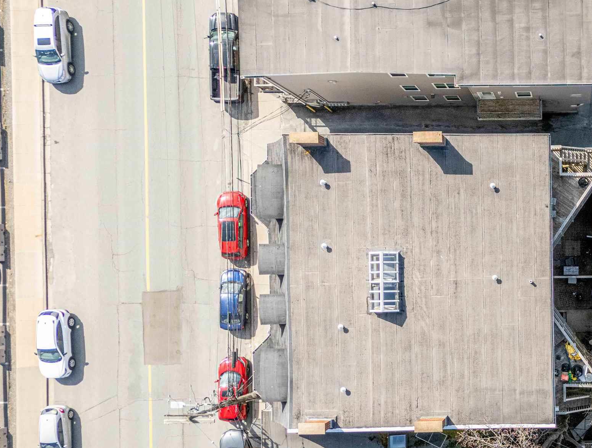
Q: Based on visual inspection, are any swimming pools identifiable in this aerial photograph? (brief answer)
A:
No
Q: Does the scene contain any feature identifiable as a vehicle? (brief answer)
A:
Yes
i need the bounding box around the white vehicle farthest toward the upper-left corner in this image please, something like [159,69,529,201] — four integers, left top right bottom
[27,8,73,84]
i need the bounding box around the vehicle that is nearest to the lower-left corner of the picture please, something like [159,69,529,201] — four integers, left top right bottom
[31,402,73,448]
